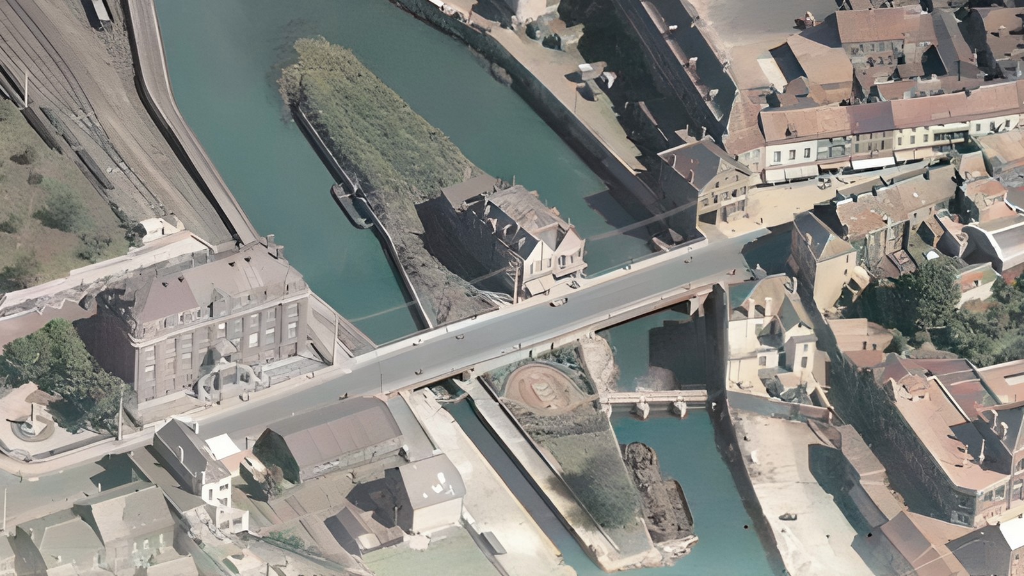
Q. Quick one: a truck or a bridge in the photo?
bridge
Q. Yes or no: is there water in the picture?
Yes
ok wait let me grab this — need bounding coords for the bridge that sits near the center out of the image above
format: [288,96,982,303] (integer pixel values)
[373,234,730,392]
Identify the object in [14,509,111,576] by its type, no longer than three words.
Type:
house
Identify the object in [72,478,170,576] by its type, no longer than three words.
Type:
house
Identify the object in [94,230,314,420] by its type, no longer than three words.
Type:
building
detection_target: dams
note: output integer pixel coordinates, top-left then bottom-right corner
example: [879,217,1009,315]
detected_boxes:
[596,389,708,421]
